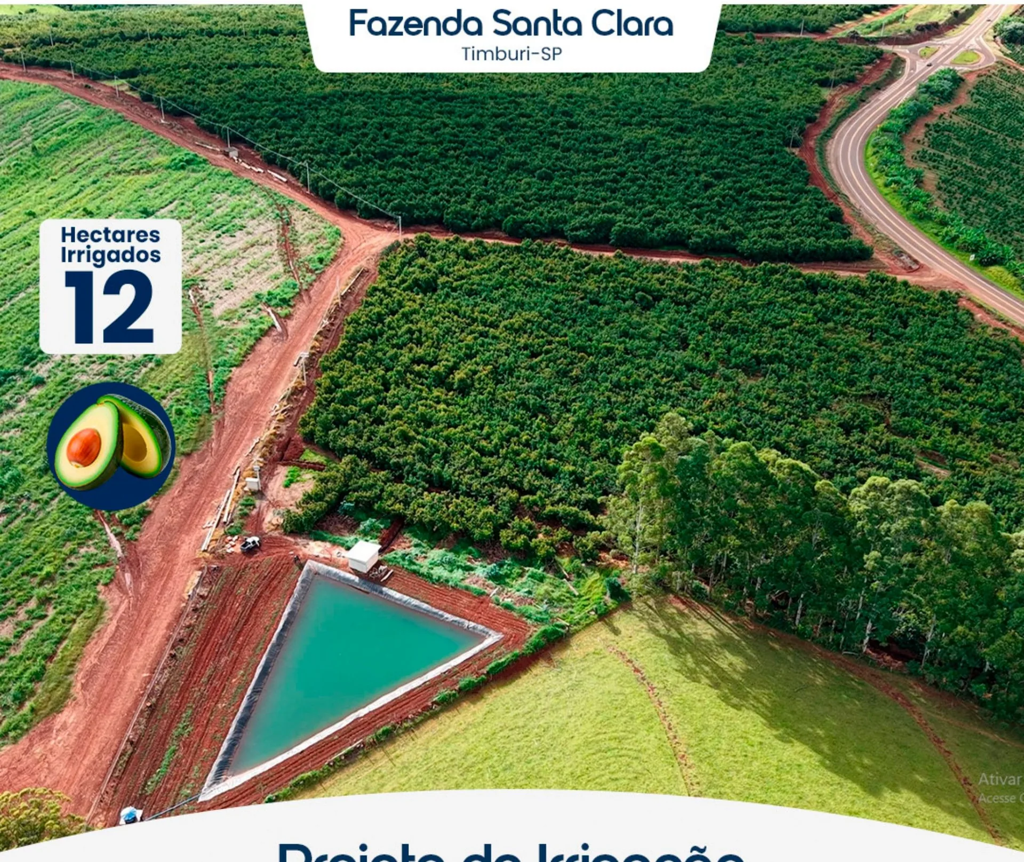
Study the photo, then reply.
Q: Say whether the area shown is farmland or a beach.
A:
farmland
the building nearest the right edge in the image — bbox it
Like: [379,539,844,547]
[343,536,384,569]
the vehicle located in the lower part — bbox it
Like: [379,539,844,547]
[243,536,267,551]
